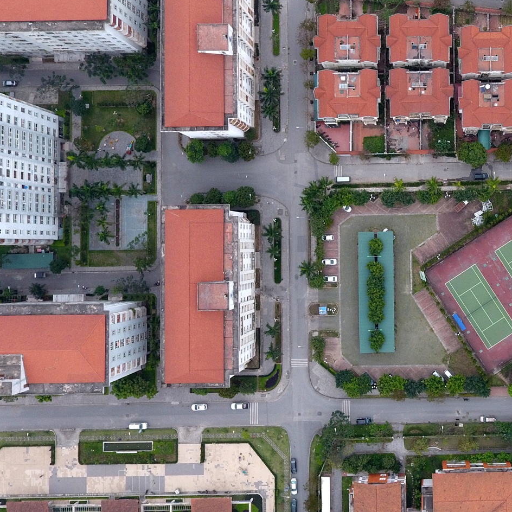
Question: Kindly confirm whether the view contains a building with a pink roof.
Yes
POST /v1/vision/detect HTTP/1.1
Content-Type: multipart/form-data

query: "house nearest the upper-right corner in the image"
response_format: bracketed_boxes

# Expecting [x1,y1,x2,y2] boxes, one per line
[456,24,512,81]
